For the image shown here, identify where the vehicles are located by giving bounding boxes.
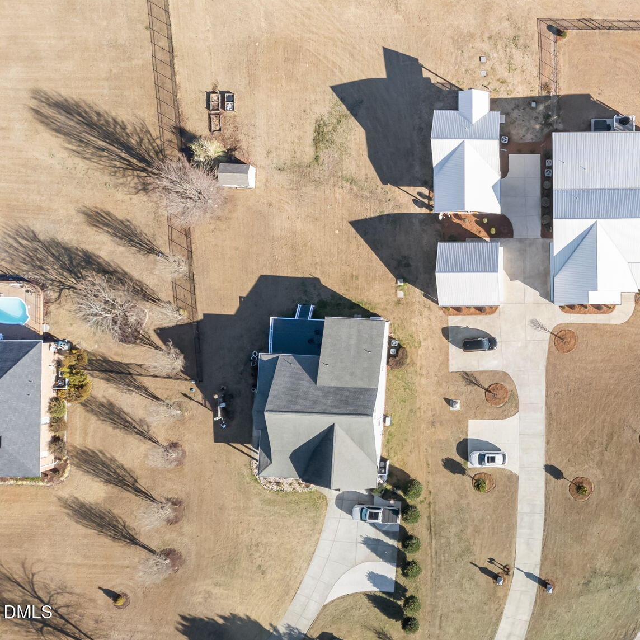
[352,503,399,524]
[470,450,507,468]
[462,335,496,351]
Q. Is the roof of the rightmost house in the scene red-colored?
No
